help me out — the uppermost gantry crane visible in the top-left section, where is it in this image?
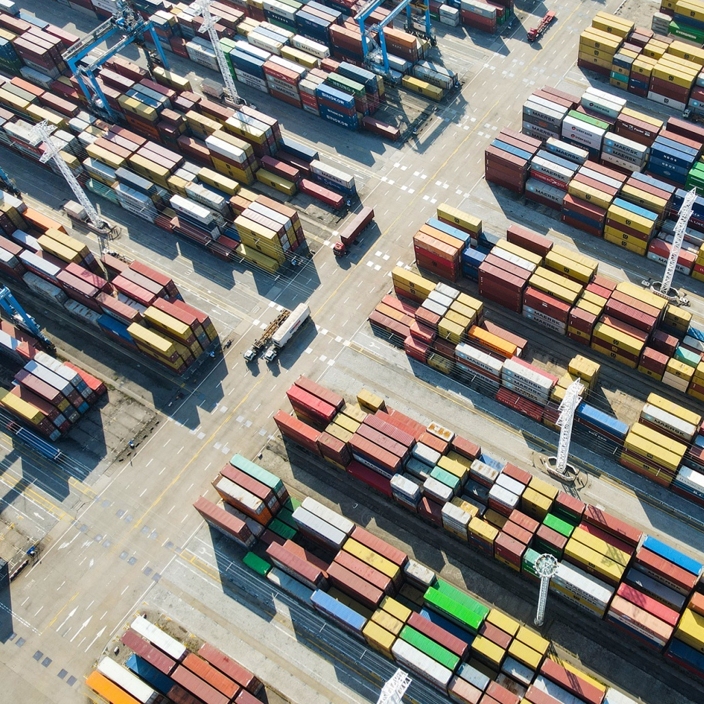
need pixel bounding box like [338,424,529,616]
[49,4,170,122]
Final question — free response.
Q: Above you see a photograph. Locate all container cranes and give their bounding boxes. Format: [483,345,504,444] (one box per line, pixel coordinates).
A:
[336,0,433,83]
[0,282,56,341]
[0,161,21,187]
[49,4,170,122]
